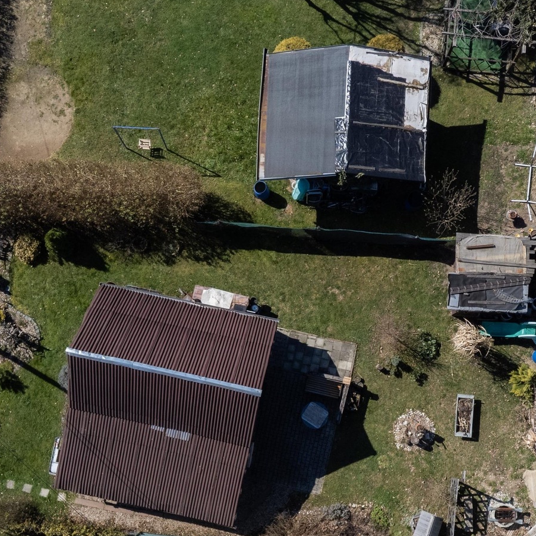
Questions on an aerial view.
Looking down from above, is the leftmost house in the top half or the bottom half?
bottom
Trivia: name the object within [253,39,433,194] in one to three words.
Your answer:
shed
